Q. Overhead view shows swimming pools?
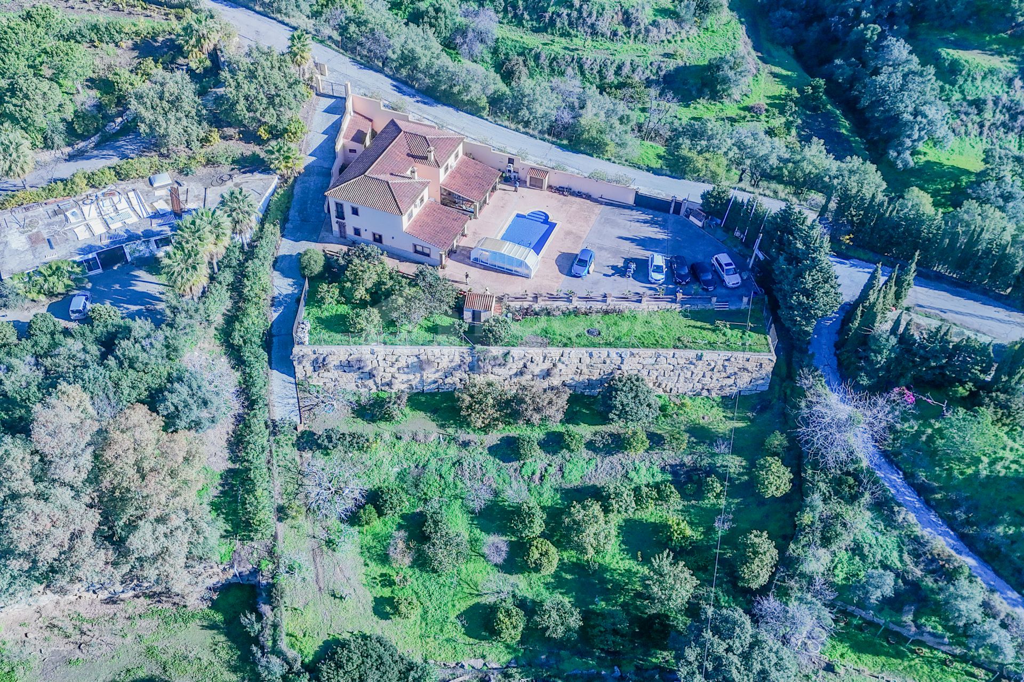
Yes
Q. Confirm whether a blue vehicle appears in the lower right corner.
No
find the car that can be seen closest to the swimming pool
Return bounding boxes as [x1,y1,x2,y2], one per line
[573,244,596,274]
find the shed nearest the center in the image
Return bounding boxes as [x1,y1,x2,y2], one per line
[462,281,500,322]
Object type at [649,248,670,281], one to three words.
car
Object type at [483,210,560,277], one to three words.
swimming pool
